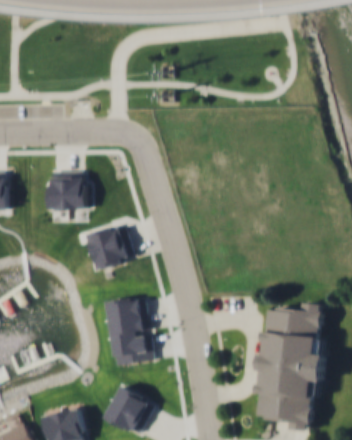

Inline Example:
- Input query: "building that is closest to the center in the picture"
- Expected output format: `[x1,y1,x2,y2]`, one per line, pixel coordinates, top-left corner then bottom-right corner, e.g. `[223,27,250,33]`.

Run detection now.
[86,227,136,270]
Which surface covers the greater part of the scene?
grass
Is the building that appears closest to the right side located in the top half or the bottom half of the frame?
bottom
